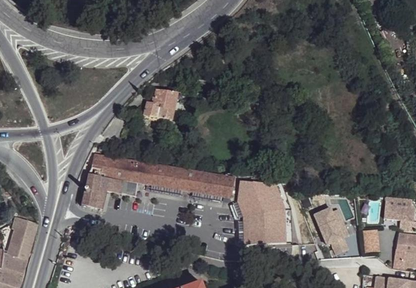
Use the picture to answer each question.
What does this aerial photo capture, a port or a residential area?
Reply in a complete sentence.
This image shows a residential area.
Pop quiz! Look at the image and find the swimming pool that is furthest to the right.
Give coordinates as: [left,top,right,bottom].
[368,200,382,224]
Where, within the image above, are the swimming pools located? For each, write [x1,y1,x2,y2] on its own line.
[330,198,354,222]
[368,200,382,224]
